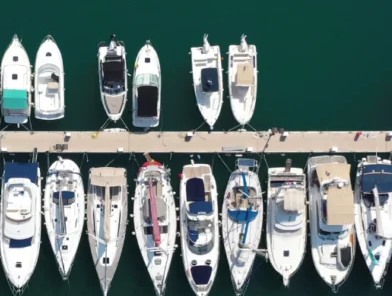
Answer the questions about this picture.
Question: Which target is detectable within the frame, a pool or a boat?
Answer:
boat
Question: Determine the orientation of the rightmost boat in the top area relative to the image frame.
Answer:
vertically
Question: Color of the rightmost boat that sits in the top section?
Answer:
white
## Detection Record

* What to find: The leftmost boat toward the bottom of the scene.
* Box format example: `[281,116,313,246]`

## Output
[0,148,45,294]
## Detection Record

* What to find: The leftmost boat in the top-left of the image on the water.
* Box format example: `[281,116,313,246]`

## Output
[0,33,34,127]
